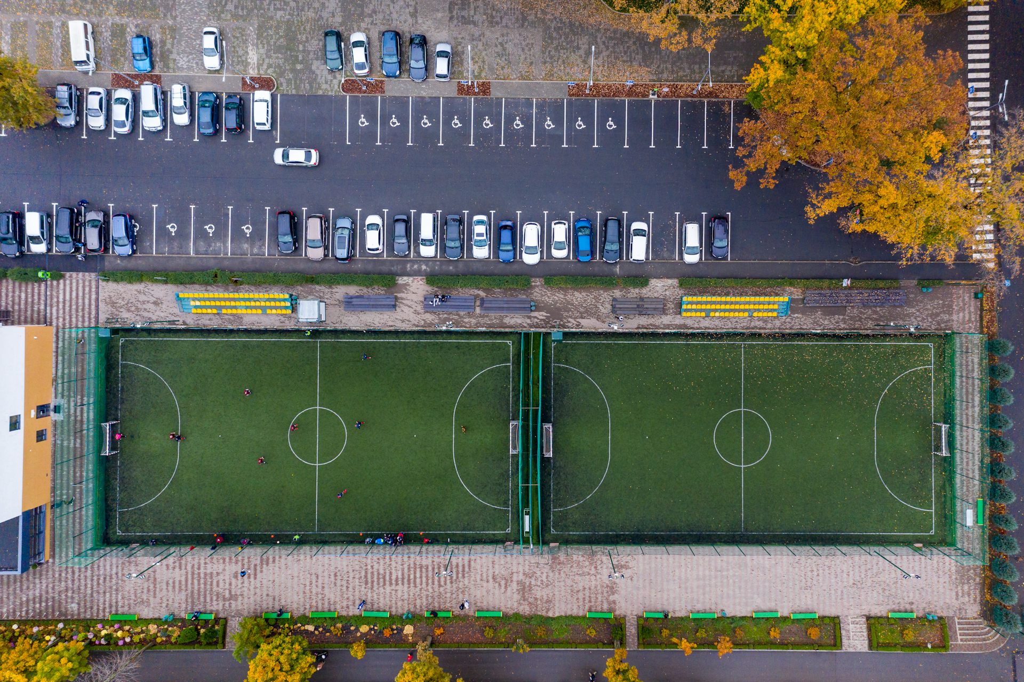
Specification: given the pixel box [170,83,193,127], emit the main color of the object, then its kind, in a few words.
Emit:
white car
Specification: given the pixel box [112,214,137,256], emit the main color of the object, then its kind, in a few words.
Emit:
blue car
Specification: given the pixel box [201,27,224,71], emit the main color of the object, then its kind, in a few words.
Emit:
white car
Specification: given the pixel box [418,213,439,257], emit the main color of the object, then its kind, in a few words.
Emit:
white vehicle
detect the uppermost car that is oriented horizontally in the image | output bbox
[275,146,320,167]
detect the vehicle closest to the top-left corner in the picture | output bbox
[63,18,98,72]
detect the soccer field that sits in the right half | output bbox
[540,330,947,544]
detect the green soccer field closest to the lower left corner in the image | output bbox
[101,330,521,544]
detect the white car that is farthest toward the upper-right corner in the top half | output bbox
[681,222,703,264]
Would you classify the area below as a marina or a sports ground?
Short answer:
sports ground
